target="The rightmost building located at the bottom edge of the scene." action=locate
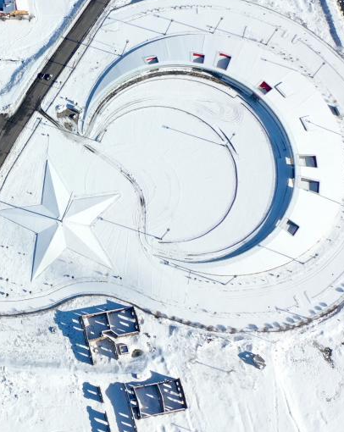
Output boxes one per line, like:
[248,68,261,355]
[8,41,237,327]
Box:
[131,378,187,419]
